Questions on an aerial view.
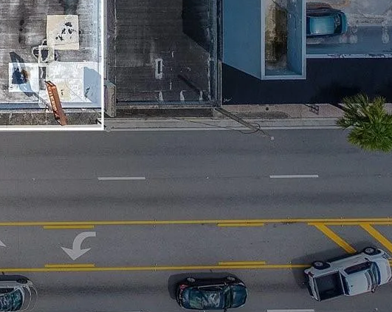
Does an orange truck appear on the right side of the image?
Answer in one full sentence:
No, on the right side of the image there is no orange truck.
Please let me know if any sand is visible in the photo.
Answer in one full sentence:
No, the picture contains no sand.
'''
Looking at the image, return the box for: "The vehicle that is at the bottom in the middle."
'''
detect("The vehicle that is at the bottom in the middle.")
[171,273,243,312]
